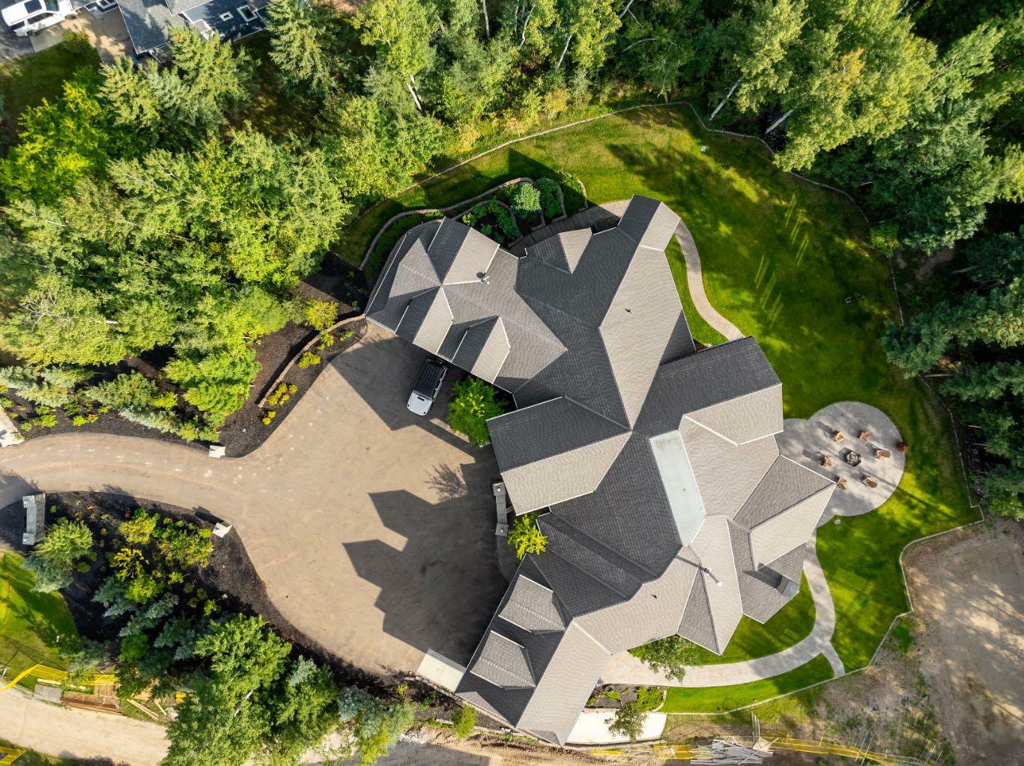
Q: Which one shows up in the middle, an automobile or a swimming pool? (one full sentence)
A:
It is an automobile that can be seen in the middle.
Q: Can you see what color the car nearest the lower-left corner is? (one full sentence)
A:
In this view, the car nearest the lower-left corner is black.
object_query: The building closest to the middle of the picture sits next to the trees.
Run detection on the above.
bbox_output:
[365,194,836,748]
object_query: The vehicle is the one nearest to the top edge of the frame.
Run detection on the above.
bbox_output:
[3,0,75,41]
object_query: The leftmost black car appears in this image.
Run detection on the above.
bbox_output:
[408,359,448,416]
